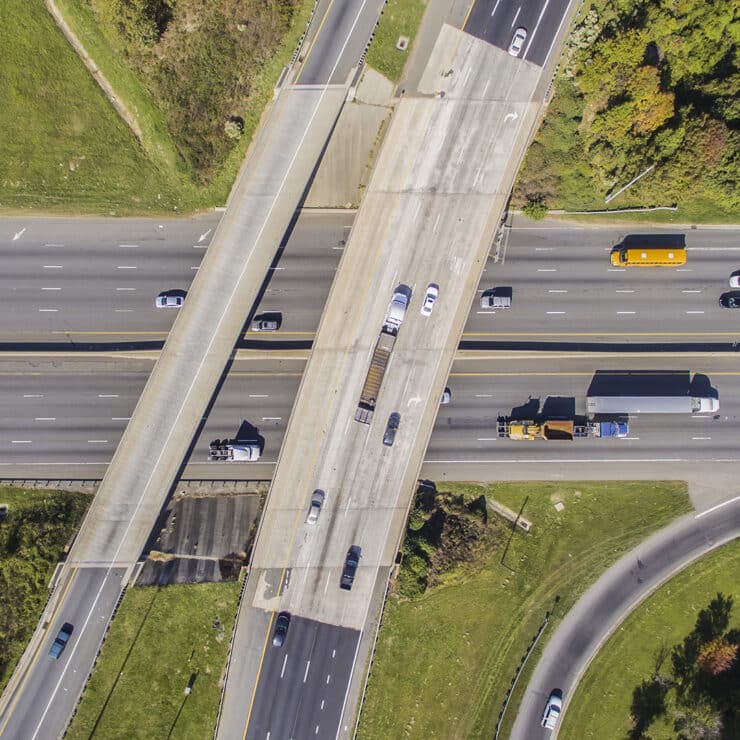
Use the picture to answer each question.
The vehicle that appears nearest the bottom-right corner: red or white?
white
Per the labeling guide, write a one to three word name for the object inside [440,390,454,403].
vehicle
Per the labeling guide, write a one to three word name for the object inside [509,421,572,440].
vehicle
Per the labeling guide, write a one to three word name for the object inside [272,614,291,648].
car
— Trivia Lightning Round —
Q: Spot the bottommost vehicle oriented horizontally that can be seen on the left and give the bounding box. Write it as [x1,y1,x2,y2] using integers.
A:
[212,442,262,462]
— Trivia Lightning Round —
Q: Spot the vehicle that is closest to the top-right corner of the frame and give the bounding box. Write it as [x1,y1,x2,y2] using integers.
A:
[507,27,528,59]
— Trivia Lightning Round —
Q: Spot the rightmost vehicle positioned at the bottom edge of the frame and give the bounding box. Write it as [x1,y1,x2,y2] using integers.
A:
[541,690,561,729]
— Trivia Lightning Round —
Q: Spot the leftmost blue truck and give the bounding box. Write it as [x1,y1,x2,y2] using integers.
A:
[46,622,74,662]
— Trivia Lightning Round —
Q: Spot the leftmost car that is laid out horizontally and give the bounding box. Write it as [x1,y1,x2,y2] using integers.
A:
[155,295,184,309]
